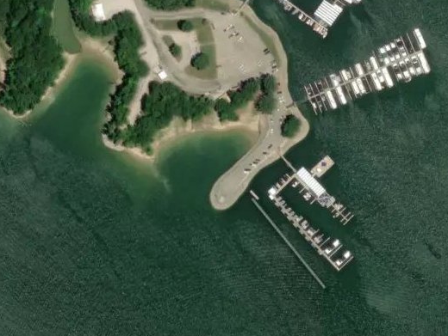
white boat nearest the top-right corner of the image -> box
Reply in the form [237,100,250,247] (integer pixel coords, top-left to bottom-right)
[415,28,427,48]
